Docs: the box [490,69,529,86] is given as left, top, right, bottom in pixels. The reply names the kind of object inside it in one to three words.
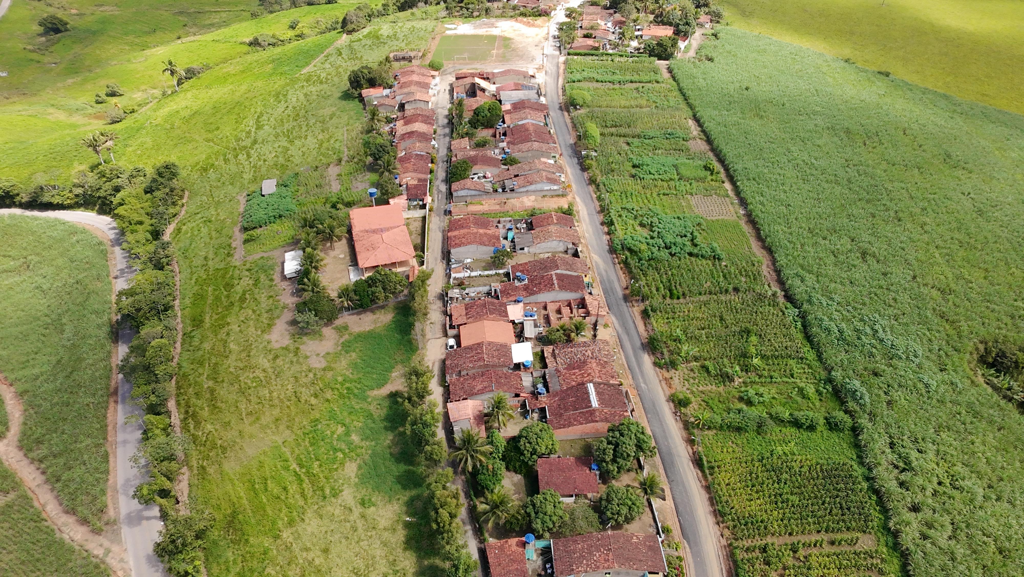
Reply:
house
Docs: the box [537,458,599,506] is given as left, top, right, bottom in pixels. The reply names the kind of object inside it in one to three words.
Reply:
house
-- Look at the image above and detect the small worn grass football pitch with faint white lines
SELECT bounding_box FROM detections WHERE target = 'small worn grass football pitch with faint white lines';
[433,35,497,60]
